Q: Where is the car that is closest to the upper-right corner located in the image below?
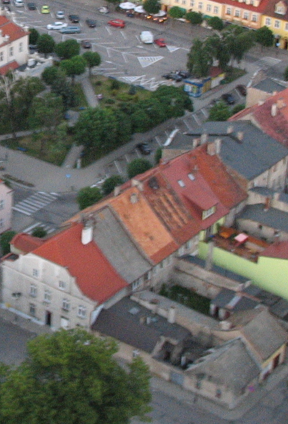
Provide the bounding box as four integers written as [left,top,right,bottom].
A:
[231,81,248,96]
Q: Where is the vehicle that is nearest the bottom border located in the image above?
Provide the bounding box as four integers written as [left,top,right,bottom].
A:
[134,142,154,156]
